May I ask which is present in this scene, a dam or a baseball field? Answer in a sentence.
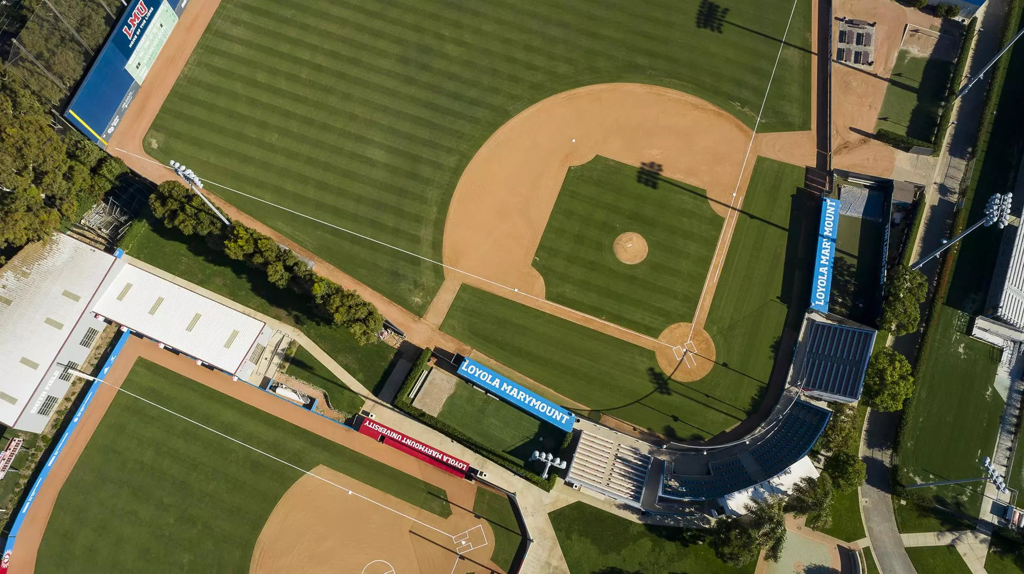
It is a baseball field that can be seen here.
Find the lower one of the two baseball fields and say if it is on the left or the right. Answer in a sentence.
The lower one of the two baseball fields appears in the left half of the scene.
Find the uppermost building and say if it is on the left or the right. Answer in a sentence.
The uppermost building appears in the right half of the scene.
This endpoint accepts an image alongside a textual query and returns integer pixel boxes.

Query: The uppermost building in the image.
[920,0,985,28]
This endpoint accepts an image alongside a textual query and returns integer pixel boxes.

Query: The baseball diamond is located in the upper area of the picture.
[106,0,831,453]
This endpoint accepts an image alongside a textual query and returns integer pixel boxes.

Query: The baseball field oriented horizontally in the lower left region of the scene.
[7,332,532,574]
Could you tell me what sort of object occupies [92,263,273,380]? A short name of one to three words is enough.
building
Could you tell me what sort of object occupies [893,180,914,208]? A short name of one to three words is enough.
shed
